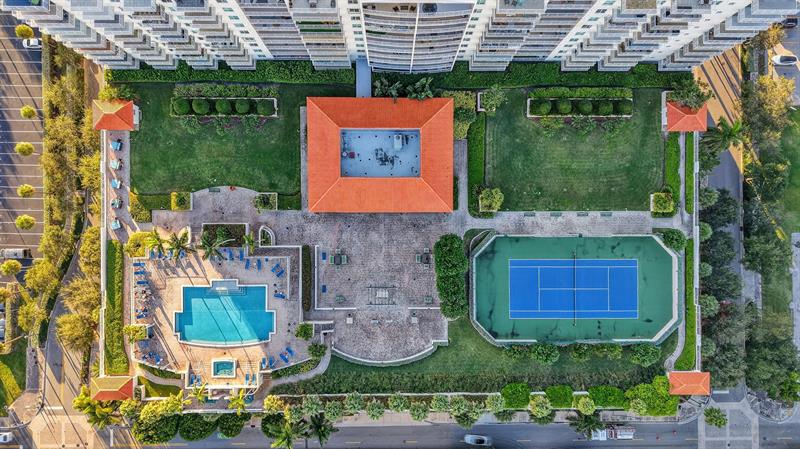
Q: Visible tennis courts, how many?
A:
1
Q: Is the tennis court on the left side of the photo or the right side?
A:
right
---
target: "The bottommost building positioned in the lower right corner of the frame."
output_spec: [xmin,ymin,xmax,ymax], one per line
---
[666,371,711,395]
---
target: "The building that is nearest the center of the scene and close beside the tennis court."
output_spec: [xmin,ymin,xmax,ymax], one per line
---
[306,97,454,213]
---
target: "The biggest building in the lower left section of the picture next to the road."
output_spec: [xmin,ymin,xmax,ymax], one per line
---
[90,375,134,401]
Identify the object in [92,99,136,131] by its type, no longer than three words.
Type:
building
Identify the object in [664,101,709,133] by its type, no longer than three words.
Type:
building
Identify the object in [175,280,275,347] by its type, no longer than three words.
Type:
swimming pool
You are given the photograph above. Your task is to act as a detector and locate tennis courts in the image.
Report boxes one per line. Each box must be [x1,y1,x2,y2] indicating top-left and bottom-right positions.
[475,236,673,341]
